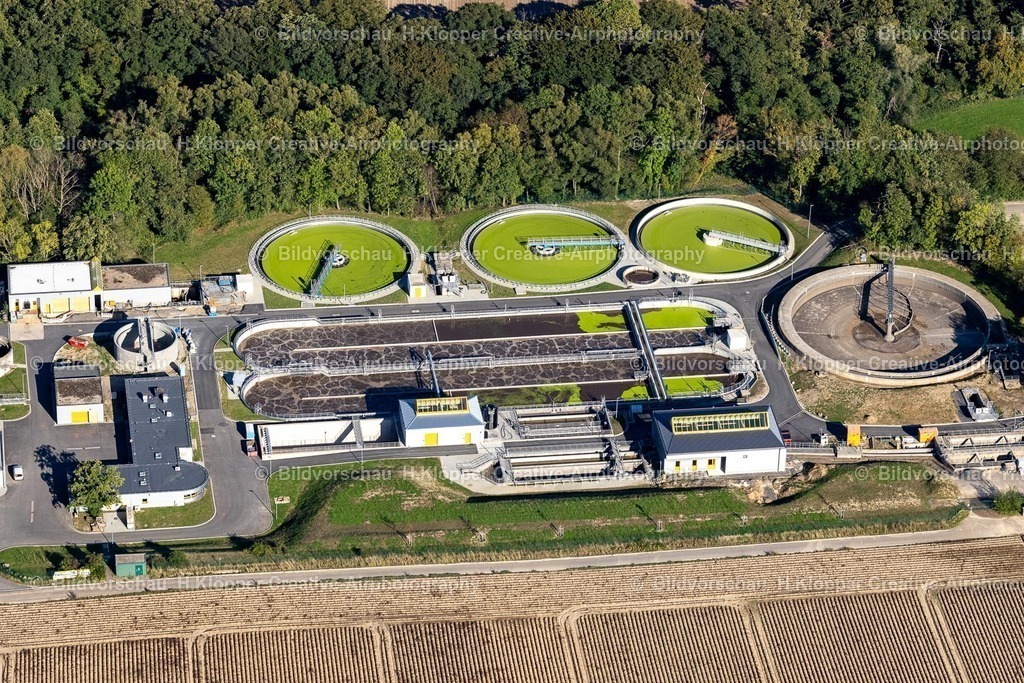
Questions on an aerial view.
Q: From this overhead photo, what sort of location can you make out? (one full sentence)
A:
The picture captures an industrial area.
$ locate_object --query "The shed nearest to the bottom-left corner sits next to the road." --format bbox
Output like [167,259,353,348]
[115,552,146,578]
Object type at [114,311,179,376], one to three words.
storage tank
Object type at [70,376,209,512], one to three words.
building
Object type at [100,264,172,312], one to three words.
building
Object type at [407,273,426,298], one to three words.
shed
